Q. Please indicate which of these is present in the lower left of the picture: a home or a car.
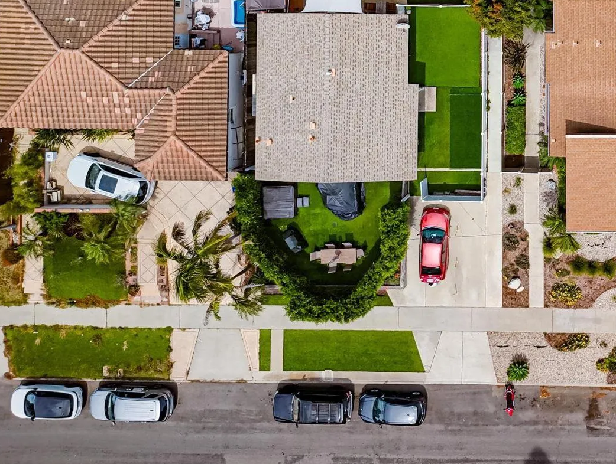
car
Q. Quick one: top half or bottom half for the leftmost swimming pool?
top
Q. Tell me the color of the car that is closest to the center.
red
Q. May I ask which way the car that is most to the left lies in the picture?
horizontally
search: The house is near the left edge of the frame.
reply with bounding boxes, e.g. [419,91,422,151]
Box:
[0,0,242,181]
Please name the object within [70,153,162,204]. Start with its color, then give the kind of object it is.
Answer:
white car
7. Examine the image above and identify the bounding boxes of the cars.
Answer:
[274,388,355,427]
[13,384,87,421]
[359,391,428,430]
[416,205,452,285]
[93,385,176,425]
[70,153,162,204]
